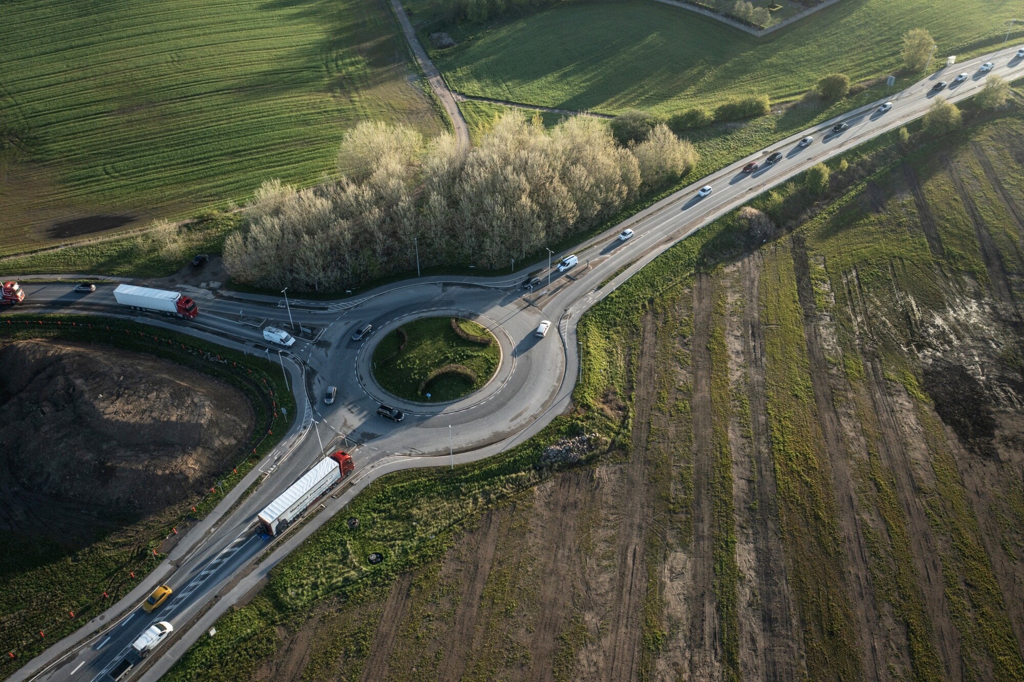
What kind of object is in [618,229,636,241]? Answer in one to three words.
vehicle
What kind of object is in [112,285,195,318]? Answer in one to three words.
truck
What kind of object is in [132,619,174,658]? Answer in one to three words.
truck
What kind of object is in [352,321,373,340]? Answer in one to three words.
car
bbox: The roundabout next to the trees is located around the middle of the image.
[302,282,566,456]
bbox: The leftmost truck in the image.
[0,281,21,302]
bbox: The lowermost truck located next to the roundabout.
[257,450,357,535]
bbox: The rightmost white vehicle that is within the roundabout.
[534,319,552,335]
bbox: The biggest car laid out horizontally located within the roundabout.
[376,403,405,420]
